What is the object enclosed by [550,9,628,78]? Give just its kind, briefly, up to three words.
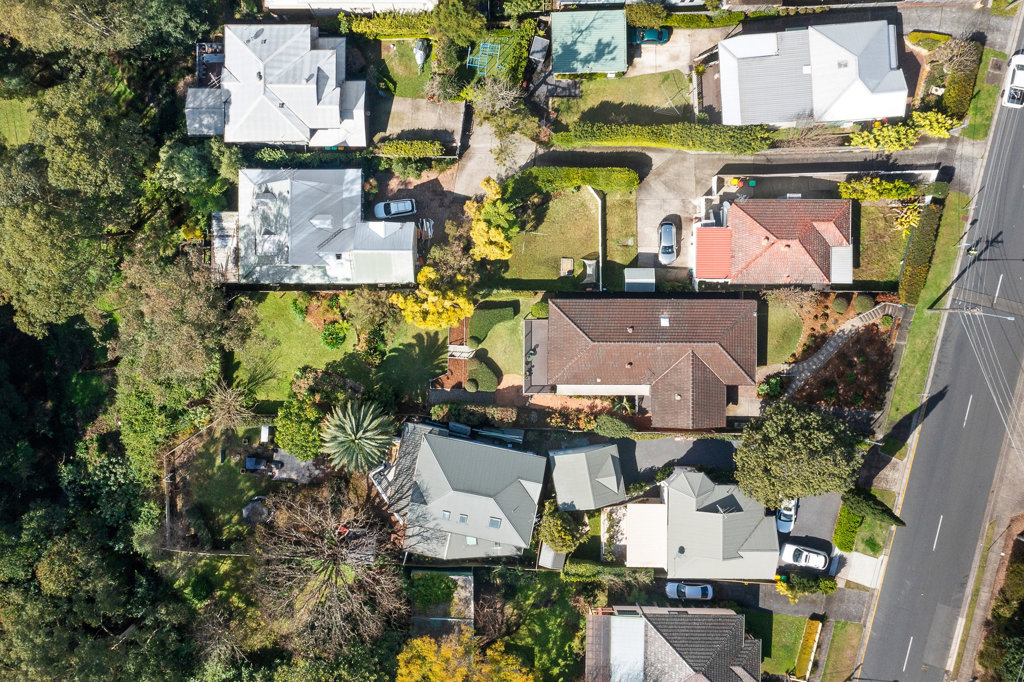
building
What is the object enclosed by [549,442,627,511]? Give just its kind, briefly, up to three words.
building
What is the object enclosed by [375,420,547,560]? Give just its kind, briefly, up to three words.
house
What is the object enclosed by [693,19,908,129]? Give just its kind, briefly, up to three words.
house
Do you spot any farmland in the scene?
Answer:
No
